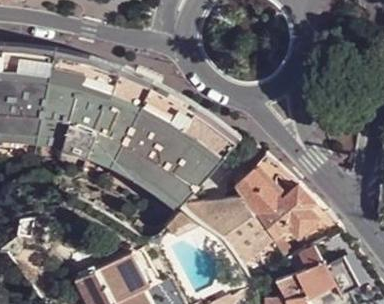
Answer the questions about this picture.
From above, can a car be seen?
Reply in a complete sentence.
Yes, there's a car down there.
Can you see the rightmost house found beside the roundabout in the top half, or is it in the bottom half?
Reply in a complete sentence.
Seen from above, the rightmost house found beside the roundabout lies in the bottom half of the view.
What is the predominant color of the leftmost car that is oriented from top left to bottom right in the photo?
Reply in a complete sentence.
The leftmost car that is oriented from top left to bottom right is white.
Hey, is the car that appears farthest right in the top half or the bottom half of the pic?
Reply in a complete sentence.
The top half of the photo is where the car that appears farthest right is.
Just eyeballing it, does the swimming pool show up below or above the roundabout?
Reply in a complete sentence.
The swimming pool appears below the roundabout in the picture.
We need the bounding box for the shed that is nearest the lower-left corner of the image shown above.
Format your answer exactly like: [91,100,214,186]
[18,216,37,238]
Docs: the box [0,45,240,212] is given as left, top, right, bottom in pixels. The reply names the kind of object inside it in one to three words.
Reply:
building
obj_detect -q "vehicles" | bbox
[30,28,58,40]
[206,87,230,107]
[185,70,206,94]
